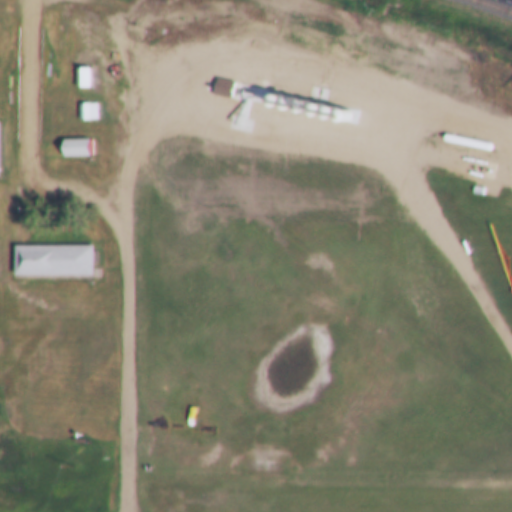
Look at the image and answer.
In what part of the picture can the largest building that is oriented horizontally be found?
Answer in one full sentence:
Look in the left portion of the view to spot the largest building that is oriented horizontally.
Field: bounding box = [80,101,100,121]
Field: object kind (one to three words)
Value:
shed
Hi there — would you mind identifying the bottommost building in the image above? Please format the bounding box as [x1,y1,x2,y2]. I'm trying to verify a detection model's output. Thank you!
[14,244,102,278]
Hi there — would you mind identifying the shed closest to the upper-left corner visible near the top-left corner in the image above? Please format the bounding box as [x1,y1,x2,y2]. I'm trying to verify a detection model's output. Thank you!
[78,66,92,88]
